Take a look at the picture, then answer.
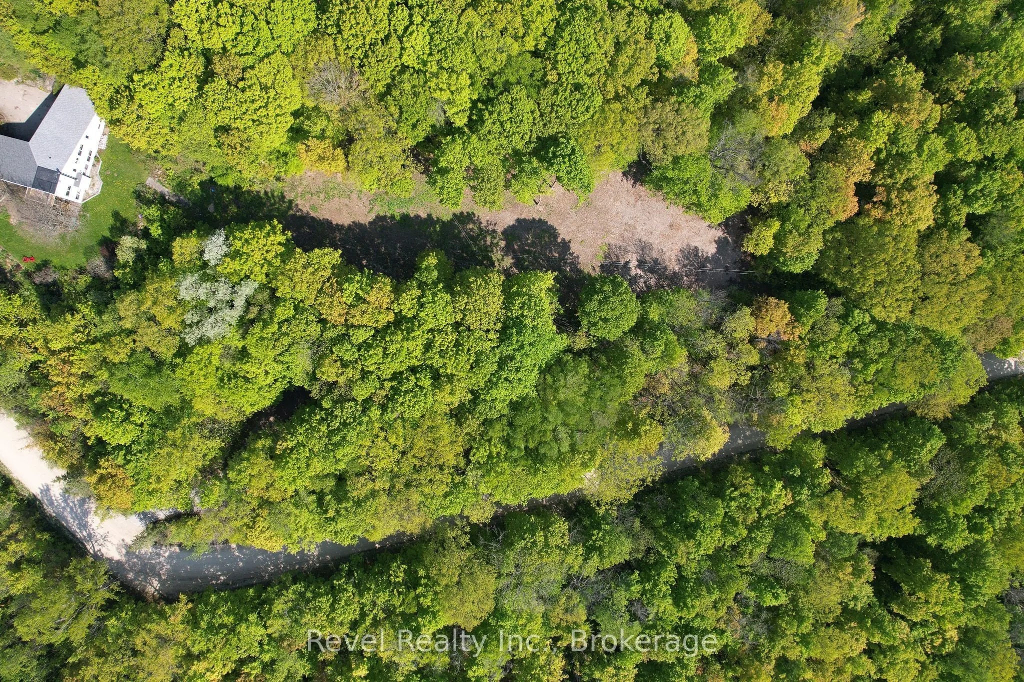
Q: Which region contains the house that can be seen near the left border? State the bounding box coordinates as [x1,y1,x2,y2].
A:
[0,90,107,217]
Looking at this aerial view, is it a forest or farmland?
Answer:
forest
